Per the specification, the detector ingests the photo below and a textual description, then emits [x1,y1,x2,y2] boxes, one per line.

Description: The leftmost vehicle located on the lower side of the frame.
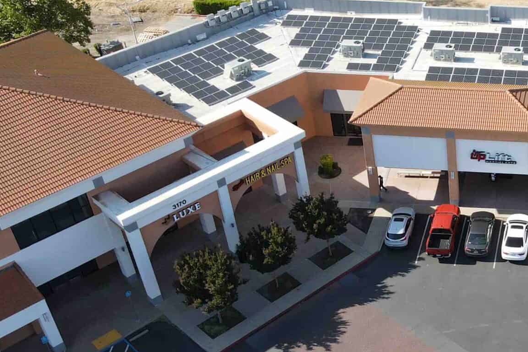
[384,206,419,248]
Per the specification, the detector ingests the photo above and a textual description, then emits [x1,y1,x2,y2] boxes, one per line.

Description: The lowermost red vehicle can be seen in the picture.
[427,205,460,258]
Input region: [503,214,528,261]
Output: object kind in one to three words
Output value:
car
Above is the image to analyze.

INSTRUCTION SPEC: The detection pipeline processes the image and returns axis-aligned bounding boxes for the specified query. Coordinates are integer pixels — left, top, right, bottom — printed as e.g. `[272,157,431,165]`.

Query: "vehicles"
[465,211,497,258]
[503,214,528,261]
[427,205,460,258]
[384,206,419,248]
